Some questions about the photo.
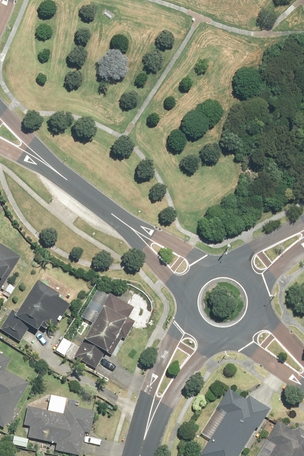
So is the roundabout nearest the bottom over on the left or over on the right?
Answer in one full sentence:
The roundabout nearest the bottom appears in the right half of the scene.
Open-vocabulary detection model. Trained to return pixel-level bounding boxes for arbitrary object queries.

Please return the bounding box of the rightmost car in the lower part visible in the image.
[100,358,115,370]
